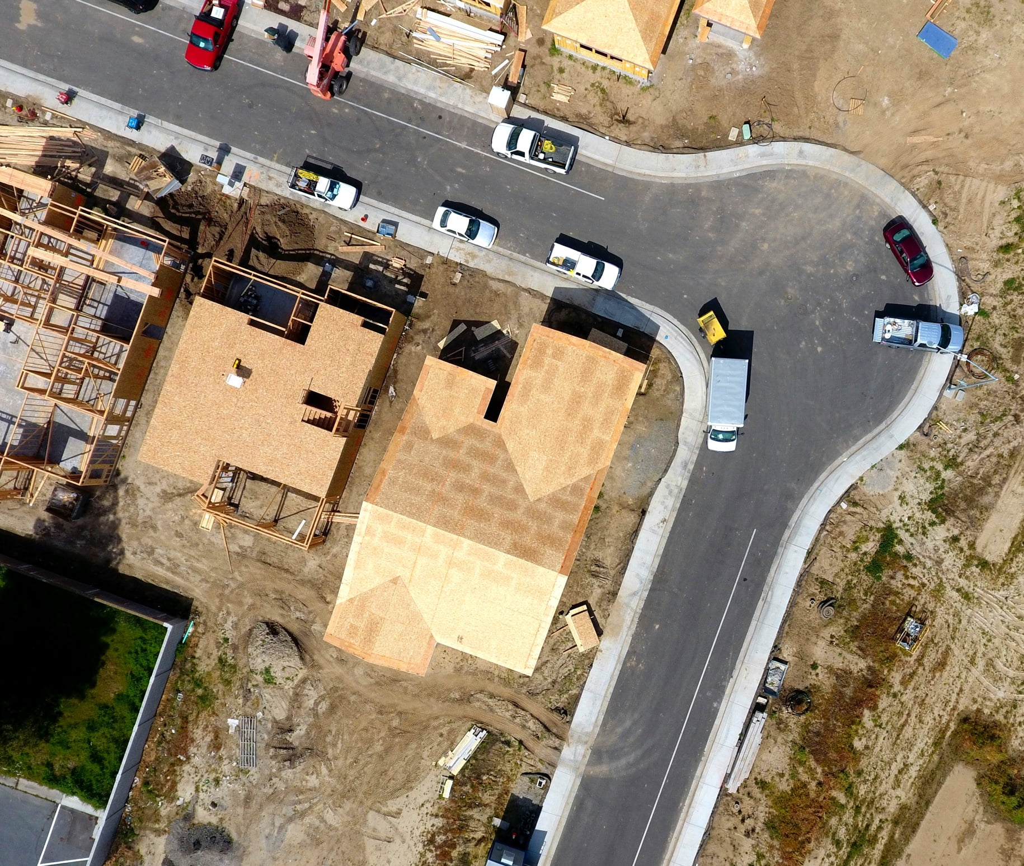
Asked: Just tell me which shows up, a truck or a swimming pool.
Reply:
truck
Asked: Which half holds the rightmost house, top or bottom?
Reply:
top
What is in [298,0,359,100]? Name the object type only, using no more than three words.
work vehicle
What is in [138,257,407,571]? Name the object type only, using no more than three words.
house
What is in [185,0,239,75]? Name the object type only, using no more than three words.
truck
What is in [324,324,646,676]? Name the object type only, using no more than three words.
house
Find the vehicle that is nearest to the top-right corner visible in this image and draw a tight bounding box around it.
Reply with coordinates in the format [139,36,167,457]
[882,221,934,292]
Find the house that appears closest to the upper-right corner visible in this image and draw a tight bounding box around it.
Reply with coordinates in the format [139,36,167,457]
[692,0,776,51]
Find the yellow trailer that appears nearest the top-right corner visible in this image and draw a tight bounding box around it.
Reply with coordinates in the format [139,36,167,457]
[696,311,726,357]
